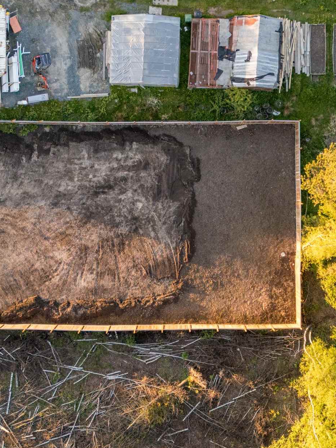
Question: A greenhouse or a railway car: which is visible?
greenhouse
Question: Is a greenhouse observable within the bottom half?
No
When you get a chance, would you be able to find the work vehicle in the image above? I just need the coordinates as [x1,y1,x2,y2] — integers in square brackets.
[34,50,58,89]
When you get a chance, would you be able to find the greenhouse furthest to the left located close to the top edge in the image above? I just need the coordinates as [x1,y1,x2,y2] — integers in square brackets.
[101,13,179,90]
